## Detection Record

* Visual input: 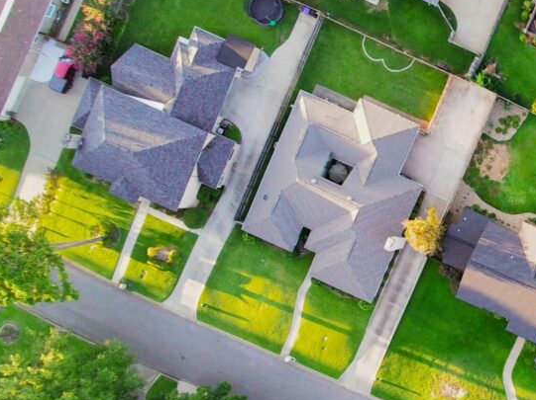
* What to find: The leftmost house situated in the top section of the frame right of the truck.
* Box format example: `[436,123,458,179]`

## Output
[70,26,242,211]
